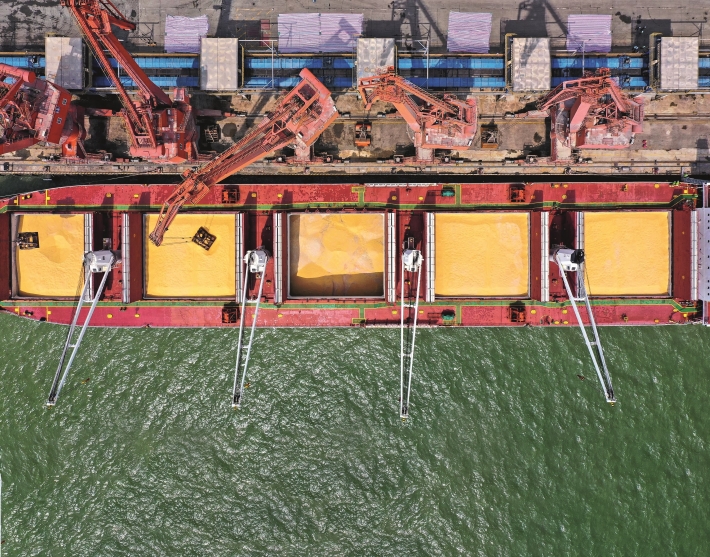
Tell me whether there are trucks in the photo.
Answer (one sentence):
No, no truck is visible in the view.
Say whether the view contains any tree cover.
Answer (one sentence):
No, there is no tree cover in the image.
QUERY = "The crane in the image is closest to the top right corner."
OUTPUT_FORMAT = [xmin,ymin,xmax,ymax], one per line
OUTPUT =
[491,71,646,166]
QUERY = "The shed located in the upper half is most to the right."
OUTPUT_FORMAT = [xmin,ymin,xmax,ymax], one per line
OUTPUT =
[620,35,710,100]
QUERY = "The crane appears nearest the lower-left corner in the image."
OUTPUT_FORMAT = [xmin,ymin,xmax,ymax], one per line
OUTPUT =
[44,243,122,407]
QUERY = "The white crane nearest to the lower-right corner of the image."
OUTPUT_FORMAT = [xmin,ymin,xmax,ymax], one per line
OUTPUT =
[549,243,618,406]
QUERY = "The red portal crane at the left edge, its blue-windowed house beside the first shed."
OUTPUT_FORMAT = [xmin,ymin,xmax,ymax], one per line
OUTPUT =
[0,69,115,166]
